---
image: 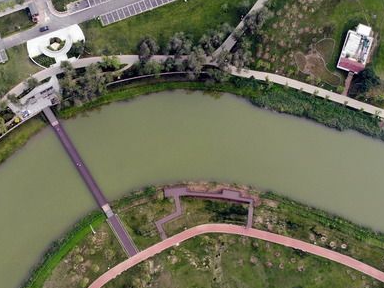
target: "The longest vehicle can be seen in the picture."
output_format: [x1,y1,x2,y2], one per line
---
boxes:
[26,1,40,22]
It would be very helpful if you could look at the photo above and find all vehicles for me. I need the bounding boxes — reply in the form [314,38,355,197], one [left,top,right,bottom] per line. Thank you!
[26,1,40,22]
[39,25,49,31]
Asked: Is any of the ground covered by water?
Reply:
Yes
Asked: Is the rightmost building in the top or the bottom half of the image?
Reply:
top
